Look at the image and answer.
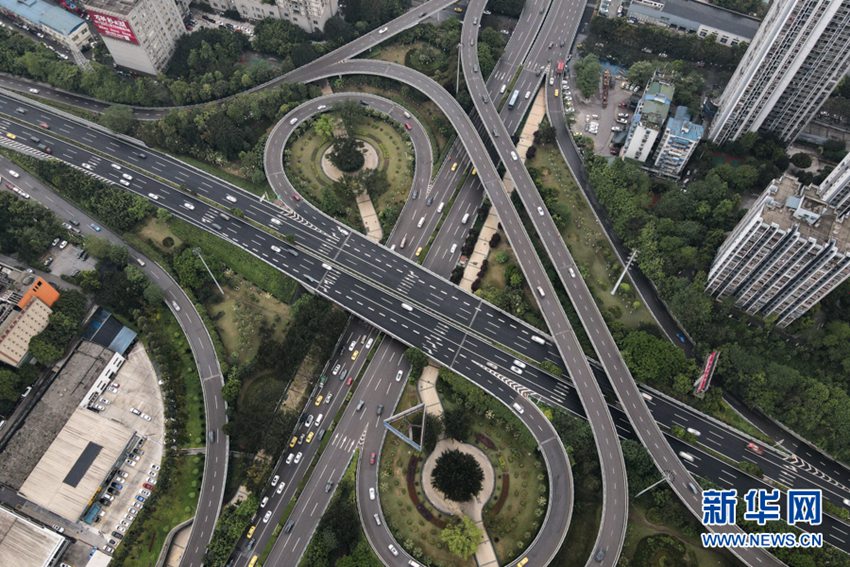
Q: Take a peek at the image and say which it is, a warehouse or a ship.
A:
warehouse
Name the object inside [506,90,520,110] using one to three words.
vehicle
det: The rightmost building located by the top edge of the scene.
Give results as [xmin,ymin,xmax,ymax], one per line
[708,0,850,154]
